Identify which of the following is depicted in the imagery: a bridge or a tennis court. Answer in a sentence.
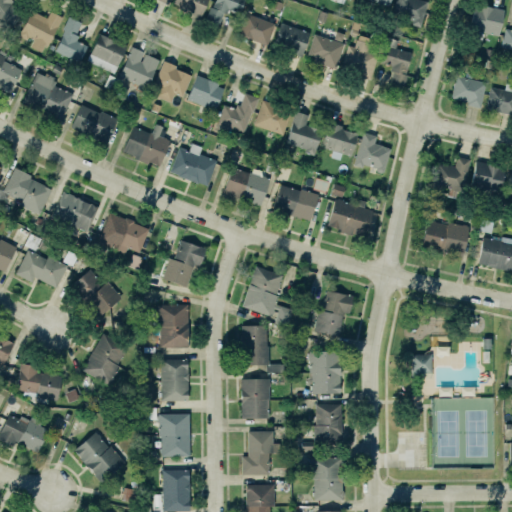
It is a tennis court that can be seen here.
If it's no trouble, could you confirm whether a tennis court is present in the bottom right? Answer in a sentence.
Yes, a tennis court can be seen in the bottom right.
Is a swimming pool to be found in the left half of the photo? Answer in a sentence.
No, there's no swimming pool to be seen in the left half of the photo.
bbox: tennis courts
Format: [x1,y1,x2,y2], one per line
[433,398,464,468]
[464,398,494,468]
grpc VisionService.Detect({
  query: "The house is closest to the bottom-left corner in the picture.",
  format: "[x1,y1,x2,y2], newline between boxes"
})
[0,412,48,454]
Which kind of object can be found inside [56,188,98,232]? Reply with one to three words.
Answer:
house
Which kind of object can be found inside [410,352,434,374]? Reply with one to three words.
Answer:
building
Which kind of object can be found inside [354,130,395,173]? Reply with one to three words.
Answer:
house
